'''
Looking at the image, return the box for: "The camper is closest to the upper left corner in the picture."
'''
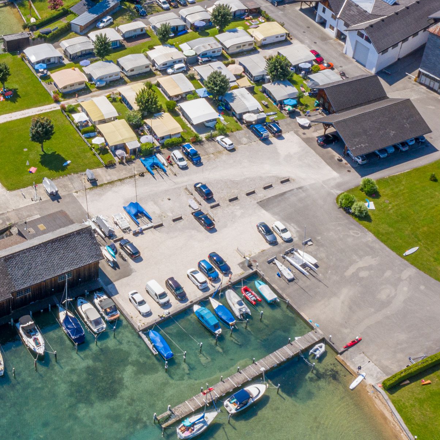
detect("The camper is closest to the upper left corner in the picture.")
[24,44,61,64]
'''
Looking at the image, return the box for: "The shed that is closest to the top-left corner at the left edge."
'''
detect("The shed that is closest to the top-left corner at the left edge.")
[3,32,30,52]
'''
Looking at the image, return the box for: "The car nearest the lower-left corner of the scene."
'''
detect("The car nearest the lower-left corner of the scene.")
[126,291,152,316]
